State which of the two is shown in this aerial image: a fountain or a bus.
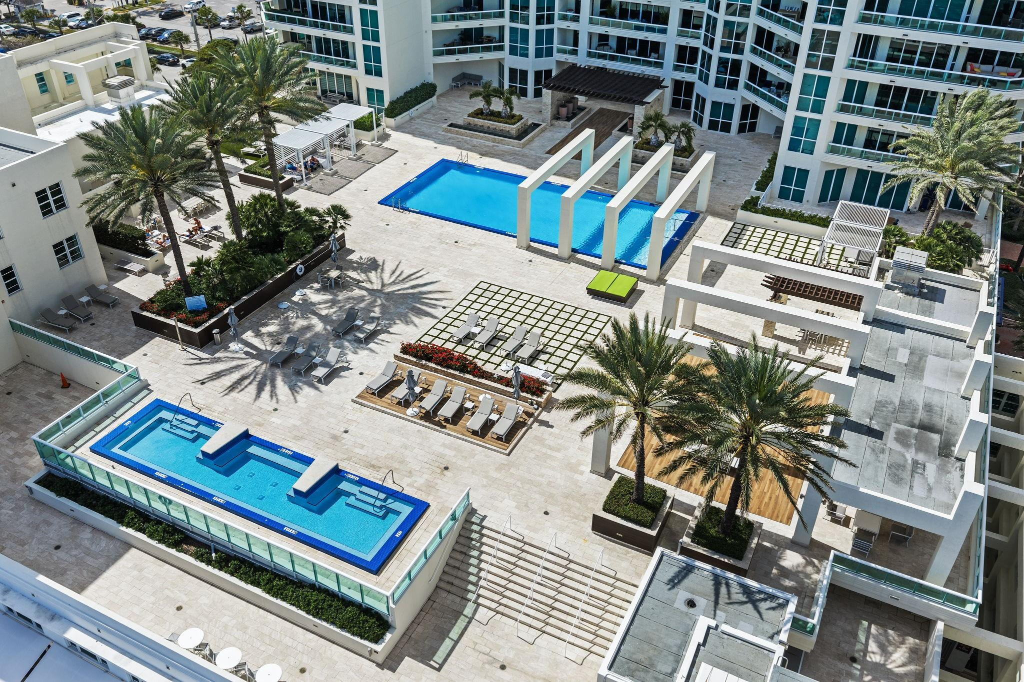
fountain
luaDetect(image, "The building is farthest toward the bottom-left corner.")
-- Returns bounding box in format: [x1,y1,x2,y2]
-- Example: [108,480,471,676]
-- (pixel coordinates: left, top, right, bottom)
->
[0,570,216,682]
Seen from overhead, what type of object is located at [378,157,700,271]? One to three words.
swimming pool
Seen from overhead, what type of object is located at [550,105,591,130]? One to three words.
fountain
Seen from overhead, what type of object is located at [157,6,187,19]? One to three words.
vehicle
